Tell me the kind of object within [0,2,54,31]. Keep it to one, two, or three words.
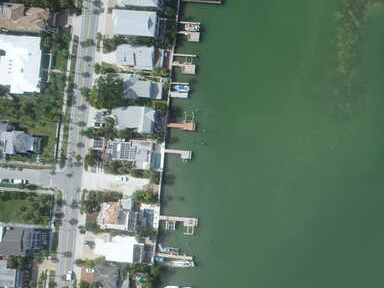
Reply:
house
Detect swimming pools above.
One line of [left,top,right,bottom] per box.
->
[143,208,154,222]
[155,152,161,168]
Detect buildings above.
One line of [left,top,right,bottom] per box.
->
[115,45,158,71]
[0,226,39,252]
[112,106,158,134]
[0,260,23,288]
[117,0,163,9]
[95,235,142,262]
[111,9,161,39]
[124,80,166,99]
[0,121,44,155]
[0,2,54,31]
[110,142,157,169]
[0,35,49,94]
[101,200,135,225]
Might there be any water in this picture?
Yes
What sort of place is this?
residential area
